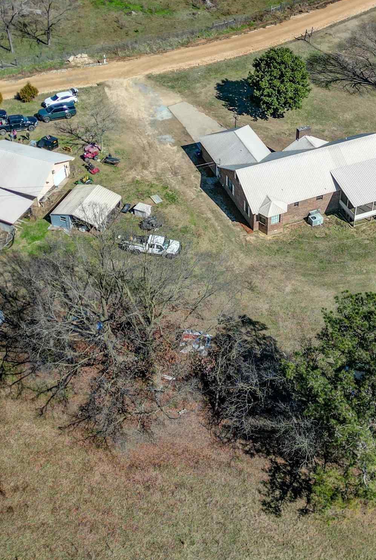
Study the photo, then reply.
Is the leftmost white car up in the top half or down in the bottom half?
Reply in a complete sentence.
You can find the leftmost white car in the top half.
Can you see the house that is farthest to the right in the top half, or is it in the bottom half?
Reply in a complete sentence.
The top half of the photo is where the house that is farthest to the right is.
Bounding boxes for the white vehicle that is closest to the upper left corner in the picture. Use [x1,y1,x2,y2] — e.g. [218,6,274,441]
[41,85,83,107]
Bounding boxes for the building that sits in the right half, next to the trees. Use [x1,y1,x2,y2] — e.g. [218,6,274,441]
[199,120,376,233]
